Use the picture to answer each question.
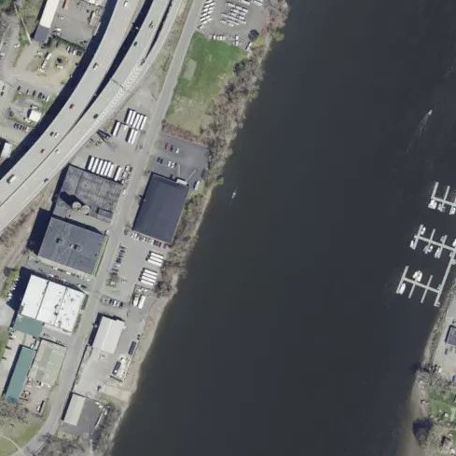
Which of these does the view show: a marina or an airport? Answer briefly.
marina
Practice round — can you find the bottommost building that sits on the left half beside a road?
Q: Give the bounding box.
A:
[63,394,85,426]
